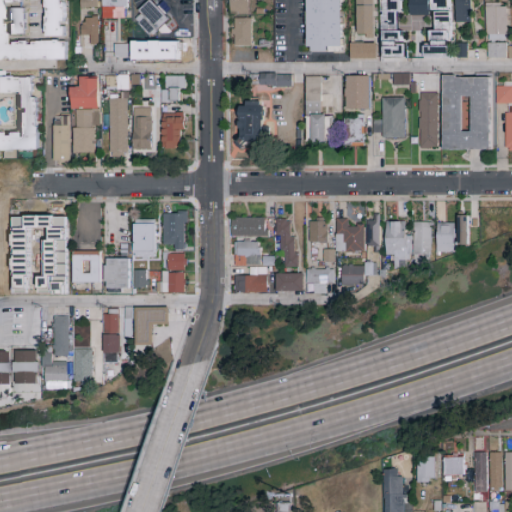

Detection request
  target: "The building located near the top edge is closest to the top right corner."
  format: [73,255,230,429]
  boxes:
[486,3,508,42]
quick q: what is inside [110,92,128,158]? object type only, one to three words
building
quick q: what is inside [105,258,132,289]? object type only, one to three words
building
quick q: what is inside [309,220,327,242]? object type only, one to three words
house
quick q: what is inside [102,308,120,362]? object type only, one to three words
house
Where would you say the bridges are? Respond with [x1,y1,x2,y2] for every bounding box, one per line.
[120,346,218,512]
